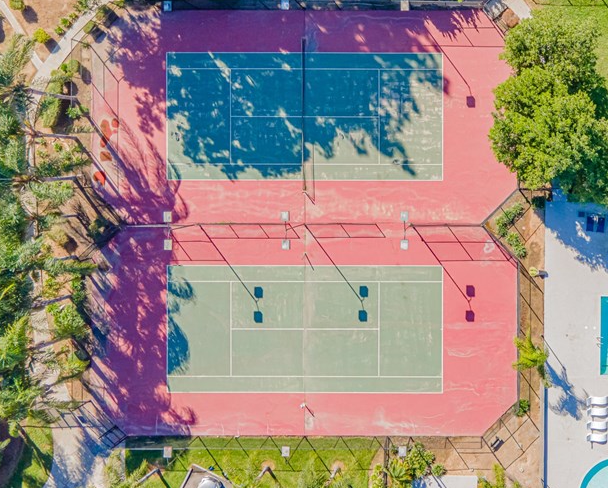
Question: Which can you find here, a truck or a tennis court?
tennis court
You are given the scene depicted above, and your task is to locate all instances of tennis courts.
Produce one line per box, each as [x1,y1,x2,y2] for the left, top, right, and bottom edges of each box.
[89,224,518,436]
[91,10,519,225]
